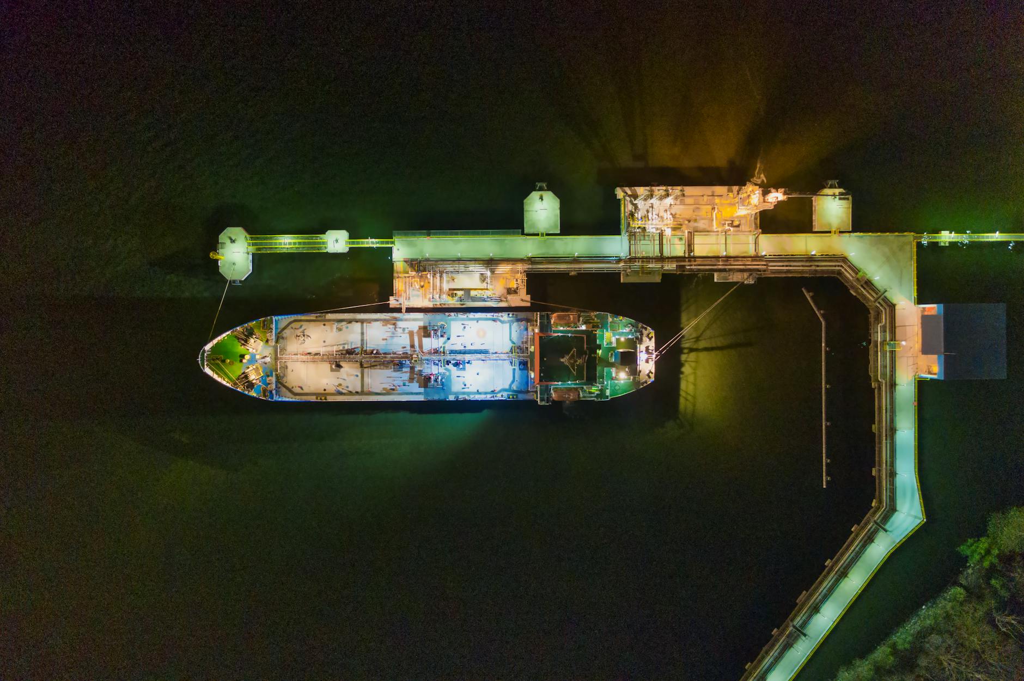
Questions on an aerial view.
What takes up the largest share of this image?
water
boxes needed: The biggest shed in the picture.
[915,303,1008,379]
